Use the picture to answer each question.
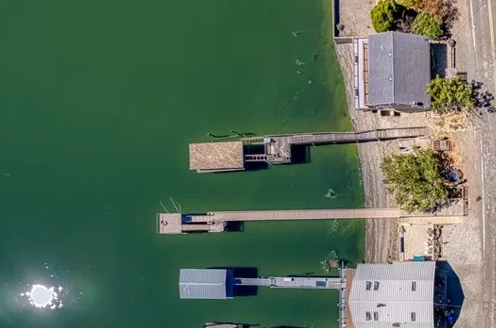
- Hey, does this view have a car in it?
No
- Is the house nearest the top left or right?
right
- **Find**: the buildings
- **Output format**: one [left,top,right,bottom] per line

[189,142,250,174]
[354,31,430,113]
[179,269,235,299]
[347,261,441,328]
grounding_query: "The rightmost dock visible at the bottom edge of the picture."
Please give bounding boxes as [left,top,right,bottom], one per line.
[235,265,350,328]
